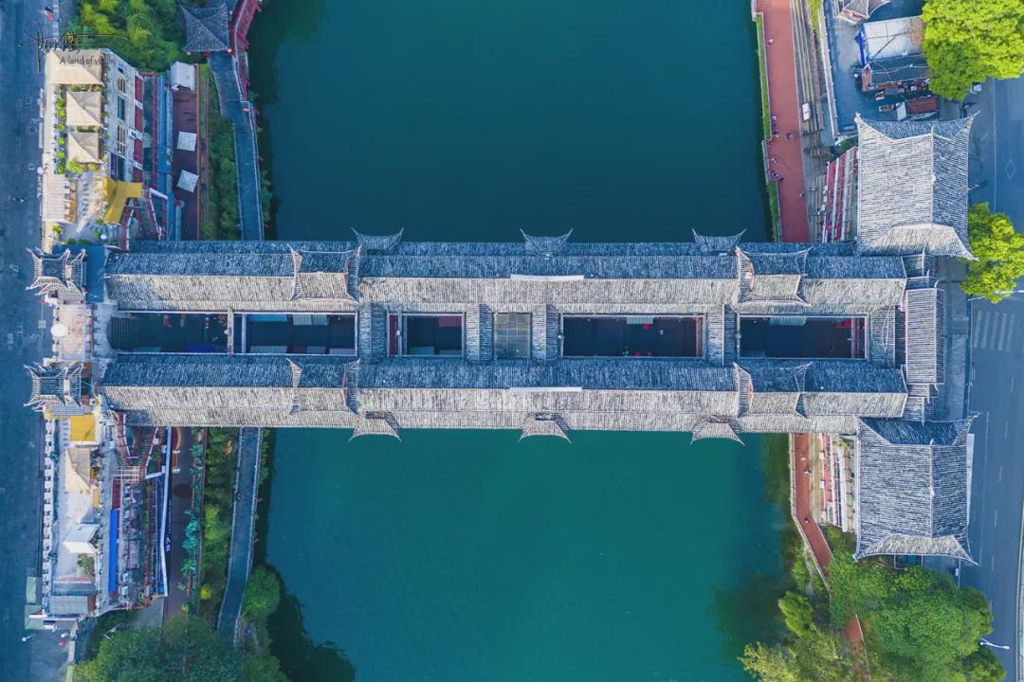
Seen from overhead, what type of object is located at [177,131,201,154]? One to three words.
tent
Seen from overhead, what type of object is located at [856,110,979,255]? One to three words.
building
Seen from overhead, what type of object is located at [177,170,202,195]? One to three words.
tent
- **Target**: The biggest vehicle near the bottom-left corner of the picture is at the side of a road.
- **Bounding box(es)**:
[33,619,58,632]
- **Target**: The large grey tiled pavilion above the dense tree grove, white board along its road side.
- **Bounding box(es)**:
[857,416,980,564]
